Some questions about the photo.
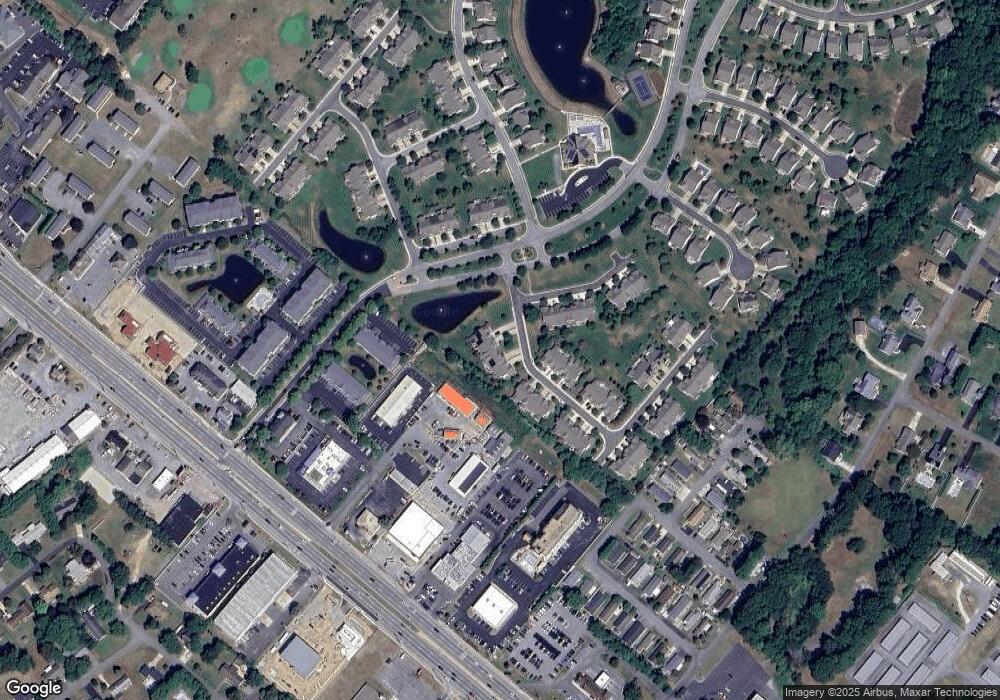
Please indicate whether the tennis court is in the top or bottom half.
top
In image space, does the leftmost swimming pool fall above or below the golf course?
below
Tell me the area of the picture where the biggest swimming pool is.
top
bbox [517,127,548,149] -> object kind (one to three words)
house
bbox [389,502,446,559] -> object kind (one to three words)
building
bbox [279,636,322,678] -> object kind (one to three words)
building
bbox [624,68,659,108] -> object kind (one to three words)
tennis court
